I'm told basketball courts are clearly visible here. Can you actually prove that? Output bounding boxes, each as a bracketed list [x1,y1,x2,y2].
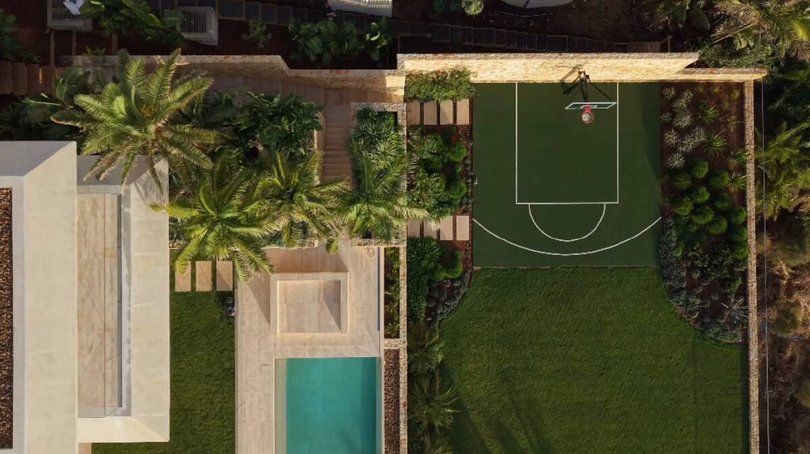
[472,81,662,267]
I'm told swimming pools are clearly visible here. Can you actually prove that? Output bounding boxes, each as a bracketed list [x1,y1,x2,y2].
[274,358,381,454]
